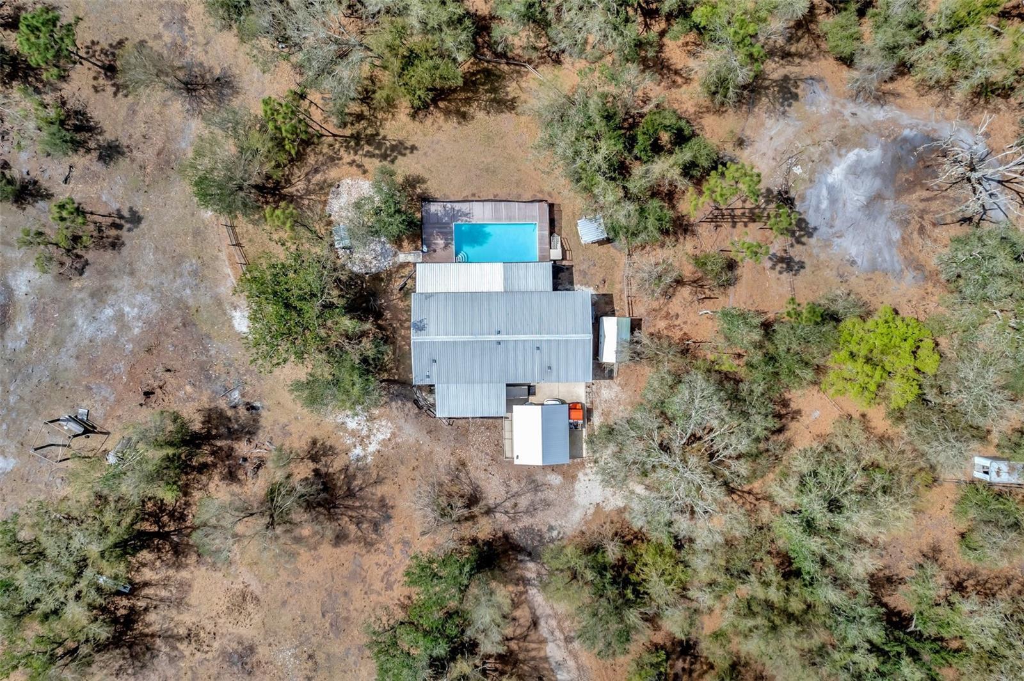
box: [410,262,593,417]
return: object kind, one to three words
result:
house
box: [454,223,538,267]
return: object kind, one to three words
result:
swimming pool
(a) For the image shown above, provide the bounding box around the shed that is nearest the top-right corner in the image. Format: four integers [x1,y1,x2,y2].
[574,215,608,249]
